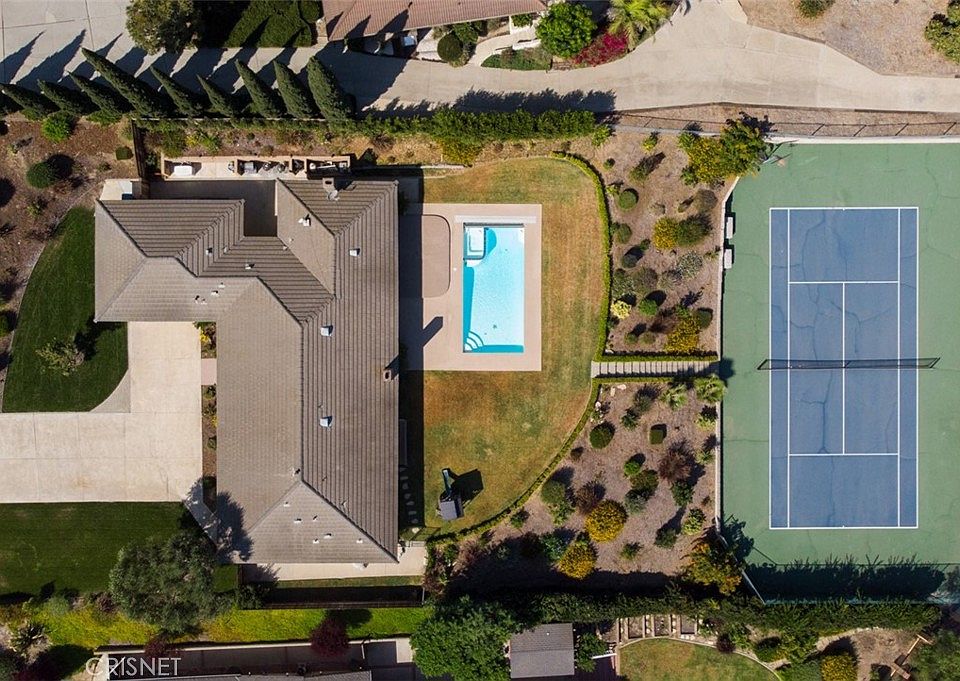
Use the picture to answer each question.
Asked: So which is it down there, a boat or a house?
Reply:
house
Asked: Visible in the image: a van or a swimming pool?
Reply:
swimming pool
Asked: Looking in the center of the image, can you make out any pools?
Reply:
Yes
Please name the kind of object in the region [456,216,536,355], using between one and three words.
swimming pool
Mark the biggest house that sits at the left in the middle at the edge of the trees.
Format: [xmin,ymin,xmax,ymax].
[94,178,399,564]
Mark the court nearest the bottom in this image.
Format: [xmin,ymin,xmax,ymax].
[718,146,960,606]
